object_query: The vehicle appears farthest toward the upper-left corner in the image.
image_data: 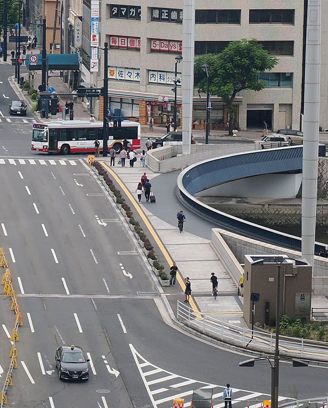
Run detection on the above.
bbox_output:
[6,100,28,117]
